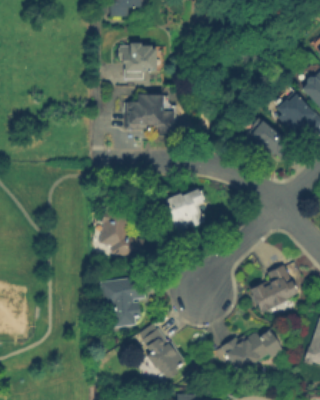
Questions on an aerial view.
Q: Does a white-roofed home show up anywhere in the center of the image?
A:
Yes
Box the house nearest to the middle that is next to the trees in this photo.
[166,186,206,226]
